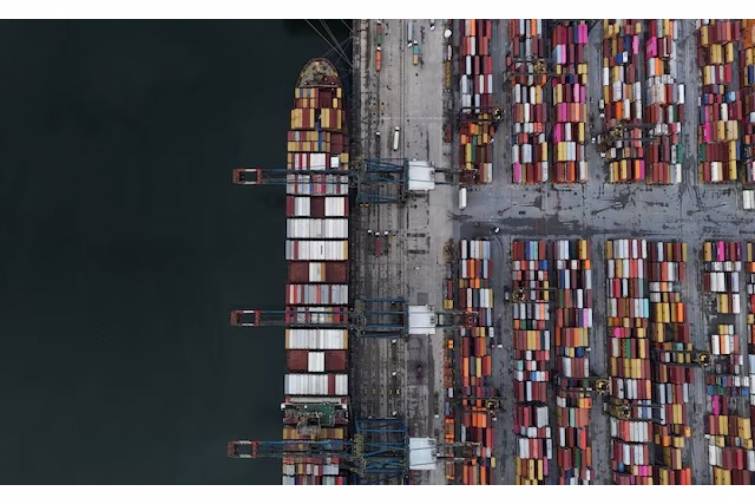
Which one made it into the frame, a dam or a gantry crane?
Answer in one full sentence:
Looking from above, you can make out a gantry crane.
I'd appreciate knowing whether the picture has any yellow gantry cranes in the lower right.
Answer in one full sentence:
No, no yellow gantry crane is visible in the lower right.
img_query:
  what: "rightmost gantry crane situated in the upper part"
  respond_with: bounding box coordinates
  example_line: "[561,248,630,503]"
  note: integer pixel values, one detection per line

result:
[591,123,658,150]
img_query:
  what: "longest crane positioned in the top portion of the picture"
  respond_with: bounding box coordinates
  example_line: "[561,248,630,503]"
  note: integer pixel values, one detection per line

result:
[231,158,480,211]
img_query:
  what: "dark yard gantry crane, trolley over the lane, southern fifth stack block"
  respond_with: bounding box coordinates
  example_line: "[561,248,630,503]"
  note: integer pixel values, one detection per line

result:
[645,341,712,365]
